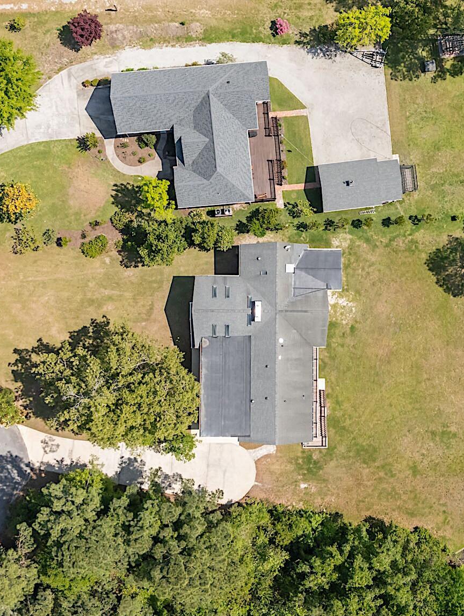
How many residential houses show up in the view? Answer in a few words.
two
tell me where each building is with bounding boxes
[190,244,343,449]
[423,59,436,74]
[318,158,403,212]
[111,60,282,209]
